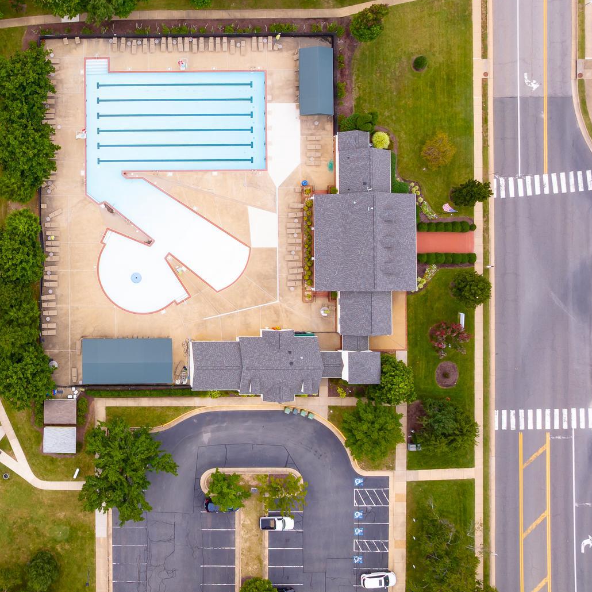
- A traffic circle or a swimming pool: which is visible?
swimming pool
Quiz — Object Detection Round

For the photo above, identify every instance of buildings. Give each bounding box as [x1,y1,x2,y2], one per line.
[82,338,172,385]
[297,46,335,115]
[44,398,76,424]
[44,425,76,453]
[309,131,417,352]
[191,331,345,402]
